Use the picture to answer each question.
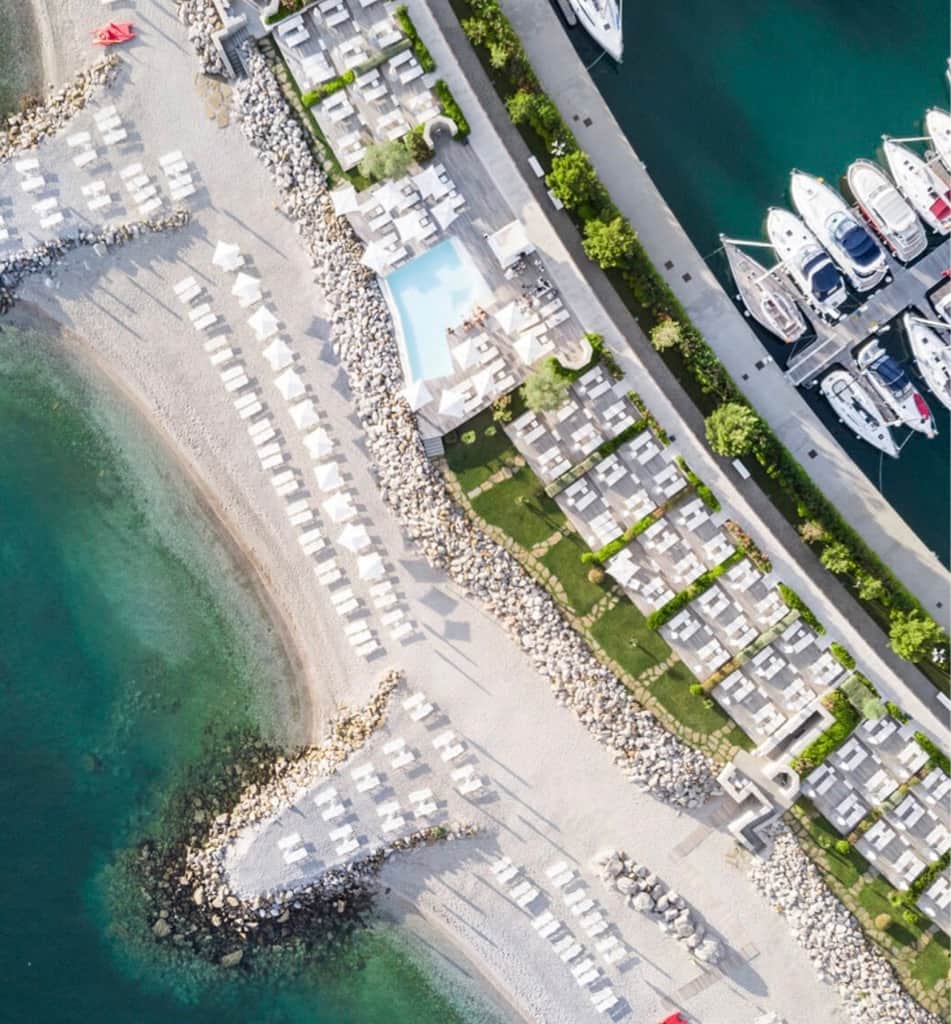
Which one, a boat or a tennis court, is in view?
boat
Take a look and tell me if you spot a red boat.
Yes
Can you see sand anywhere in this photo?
Yes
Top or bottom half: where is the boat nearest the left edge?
top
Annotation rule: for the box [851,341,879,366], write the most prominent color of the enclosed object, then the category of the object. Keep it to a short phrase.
white boat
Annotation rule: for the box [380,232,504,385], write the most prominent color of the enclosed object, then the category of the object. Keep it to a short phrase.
white swimming pool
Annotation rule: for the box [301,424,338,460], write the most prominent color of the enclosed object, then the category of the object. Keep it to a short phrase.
white umbrella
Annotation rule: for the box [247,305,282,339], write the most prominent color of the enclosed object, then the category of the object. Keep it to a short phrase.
white umbrella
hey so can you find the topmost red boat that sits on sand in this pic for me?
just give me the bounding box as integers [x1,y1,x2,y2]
[92,18,135,44]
